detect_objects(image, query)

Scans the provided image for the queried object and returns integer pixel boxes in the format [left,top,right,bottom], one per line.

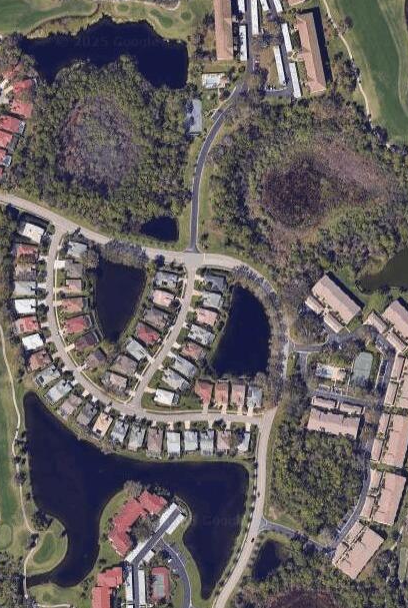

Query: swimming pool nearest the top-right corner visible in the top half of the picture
[200,72,222,88]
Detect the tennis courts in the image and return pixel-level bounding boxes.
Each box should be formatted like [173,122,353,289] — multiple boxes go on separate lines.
[151,568,169,599]
[354,351,374,384]
[188,99,202,135]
